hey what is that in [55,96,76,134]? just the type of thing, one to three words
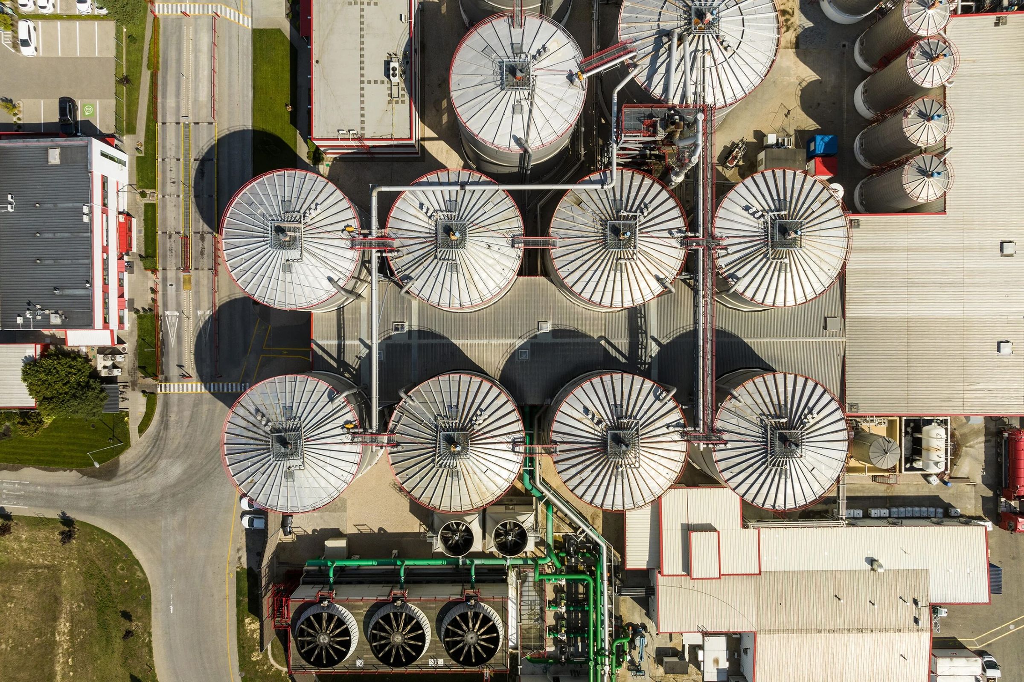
car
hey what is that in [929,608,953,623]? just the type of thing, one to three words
work vehicle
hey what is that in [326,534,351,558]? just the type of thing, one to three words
shed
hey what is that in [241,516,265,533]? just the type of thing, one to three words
car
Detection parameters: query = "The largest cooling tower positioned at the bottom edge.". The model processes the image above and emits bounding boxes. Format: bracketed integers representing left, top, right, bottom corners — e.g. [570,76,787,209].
[287,562,515,677]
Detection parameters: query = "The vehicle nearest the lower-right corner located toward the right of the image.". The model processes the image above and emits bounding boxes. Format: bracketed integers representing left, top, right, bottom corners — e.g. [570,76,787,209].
[981,646,1006,682]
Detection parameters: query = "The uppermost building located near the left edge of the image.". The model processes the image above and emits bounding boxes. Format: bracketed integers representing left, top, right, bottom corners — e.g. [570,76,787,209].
[0,132,145,328]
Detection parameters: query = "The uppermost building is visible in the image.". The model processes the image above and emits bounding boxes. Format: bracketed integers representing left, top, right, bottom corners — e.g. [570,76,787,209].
[302,0,420,156]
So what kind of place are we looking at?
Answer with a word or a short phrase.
industrial area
